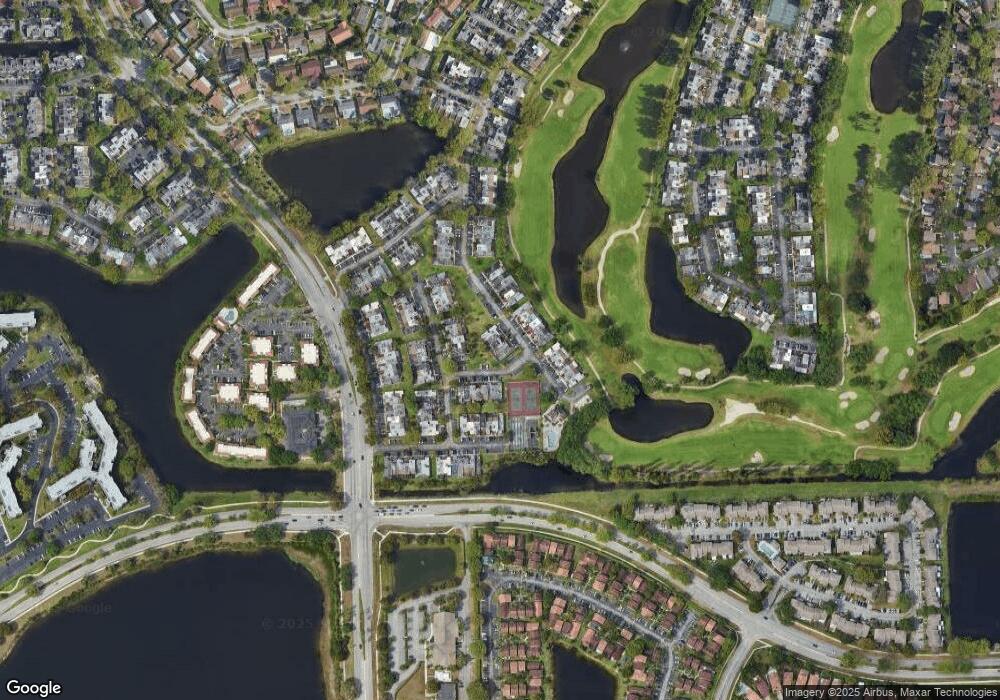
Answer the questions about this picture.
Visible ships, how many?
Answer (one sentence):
There are no ships in the image.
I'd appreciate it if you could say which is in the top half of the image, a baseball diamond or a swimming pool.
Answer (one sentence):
The feature located in the top half of the image is a swimming pool.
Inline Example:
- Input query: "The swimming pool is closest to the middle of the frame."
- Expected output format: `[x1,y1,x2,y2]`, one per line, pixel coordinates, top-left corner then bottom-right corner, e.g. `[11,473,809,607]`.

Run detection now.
[543,420,562,452]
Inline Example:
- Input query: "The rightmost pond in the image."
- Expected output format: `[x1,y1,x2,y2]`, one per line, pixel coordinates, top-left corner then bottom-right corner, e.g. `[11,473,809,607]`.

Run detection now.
[869,0,923,114]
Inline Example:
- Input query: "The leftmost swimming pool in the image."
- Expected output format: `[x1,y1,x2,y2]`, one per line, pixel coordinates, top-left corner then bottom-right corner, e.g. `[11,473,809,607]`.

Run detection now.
[219,307,238,324]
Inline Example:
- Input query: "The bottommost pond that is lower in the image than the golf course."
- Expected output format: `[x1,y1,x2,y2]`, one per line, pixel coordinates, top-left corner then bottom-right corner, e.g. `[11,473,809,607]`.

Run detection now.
[550,640,617,700]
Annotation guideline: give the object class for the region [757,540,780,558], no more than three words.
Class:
swimming pool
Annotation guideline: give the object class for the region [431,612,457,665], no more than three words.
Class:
building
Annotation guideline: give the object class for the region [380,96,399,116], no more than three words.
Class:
house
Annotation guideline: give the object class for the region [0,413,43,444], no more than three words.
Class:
building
